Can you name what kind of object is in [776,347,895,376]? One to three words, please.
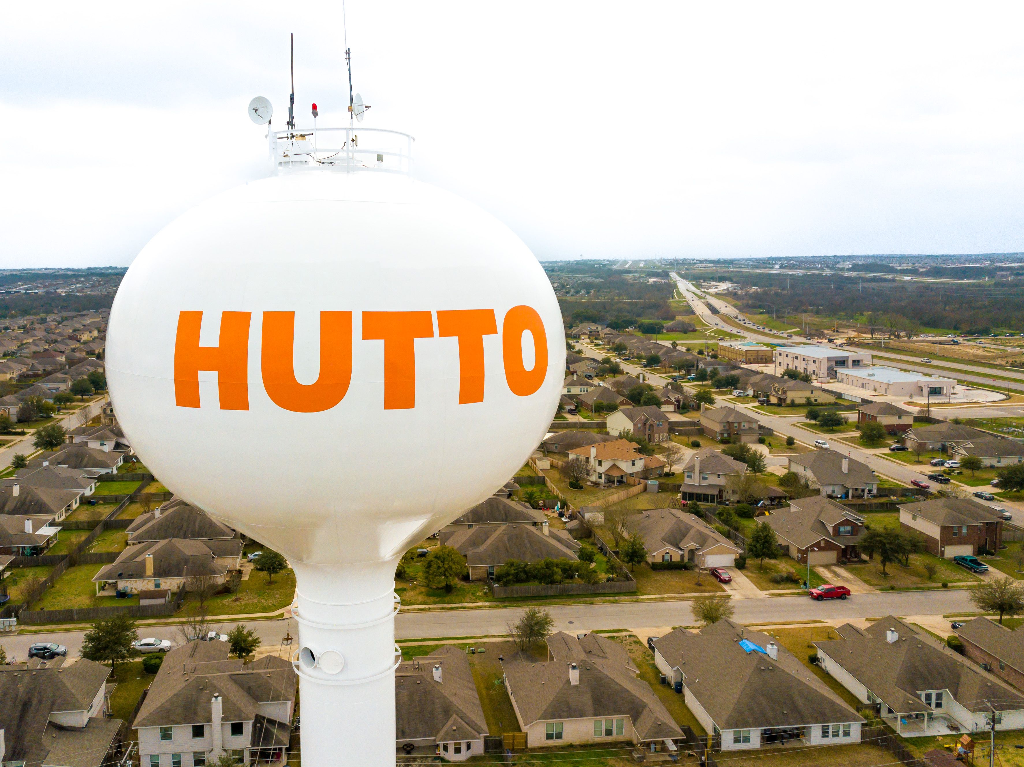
building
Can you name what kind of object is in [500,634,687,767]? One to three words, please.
house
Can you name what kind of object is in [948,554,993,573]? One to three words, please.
vehicle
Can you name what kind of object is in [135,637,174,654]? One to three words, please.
car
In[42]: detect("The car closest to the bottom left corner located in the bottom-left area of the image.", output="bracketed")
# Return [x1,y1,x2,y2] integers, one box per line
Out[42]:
[24,640,69,660]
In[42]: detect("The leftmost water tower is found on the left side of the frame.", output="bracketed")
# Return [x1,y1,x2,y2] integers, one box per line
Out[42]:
[105,127,565,767]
